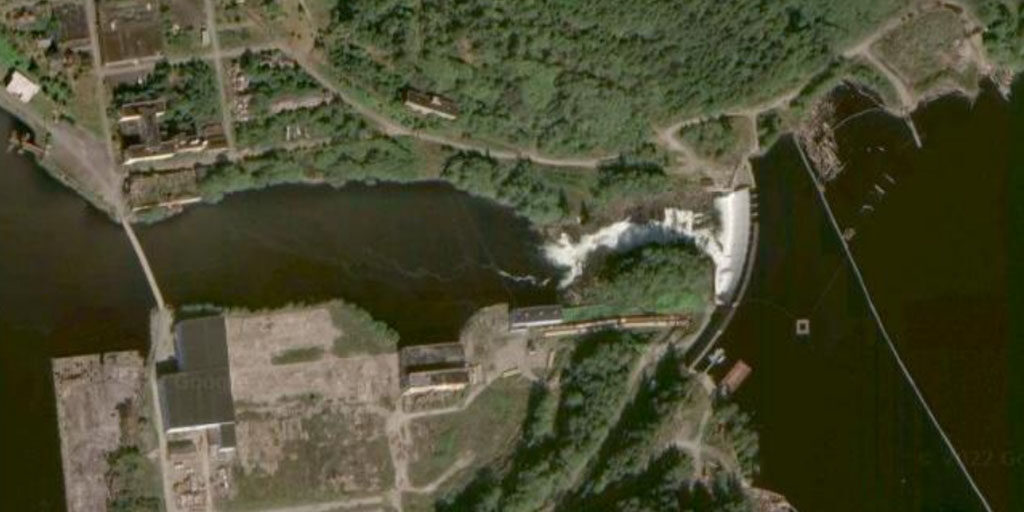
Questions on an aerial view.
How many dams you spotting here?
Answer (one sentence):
The count comes to 1 dam.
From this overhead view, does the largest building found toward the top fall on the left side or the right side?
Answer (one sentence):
It is on the left.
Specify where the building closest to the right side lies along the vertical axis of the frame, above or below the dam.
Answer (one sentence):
Looking at the photo, you'll find the building closest to the right side below the dam.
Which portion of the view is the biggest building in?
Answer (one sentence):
You can find the biggest building in the bottom left area of the picture.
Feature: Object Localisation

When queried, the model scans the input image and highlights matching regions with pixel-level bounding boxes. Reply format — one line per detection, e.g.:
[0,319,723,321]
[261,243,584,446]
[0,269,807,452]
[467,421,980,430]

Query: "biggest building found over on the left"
[163,315,235,451]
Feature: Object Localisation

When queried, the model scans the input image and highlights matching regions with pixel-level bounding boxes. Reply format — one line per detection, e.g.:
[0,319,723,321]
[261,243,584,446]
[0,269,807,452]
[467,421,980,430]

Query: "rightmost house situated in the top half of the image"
[401,90,458,119]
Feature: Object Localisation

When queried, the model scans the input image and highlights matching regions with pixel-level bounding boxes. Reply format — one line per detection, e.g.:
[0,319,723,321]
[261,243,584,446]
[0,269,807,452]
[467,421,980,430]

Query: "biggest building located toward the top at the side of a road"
[120,99,229,163]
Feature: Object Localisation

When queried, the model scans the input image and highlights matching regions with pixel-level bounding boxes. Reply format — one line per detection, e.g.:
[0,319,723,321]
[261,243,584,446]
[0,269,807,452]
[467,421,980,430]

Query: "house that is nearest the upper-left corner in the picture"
[15,14,37,32]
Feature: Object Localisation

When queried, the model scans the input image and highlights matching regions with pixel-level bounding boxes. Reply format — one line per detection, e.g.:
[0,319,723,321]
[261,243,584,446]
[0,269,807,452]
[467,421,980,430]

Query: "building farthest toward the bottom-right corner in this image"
[720,360,752,395]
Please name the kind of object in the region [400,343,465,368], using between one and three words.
building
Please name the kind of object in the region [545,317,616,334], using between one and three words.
shed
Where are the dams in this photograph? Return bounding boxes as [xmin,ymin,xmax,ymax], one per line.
[706,157,758,308]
